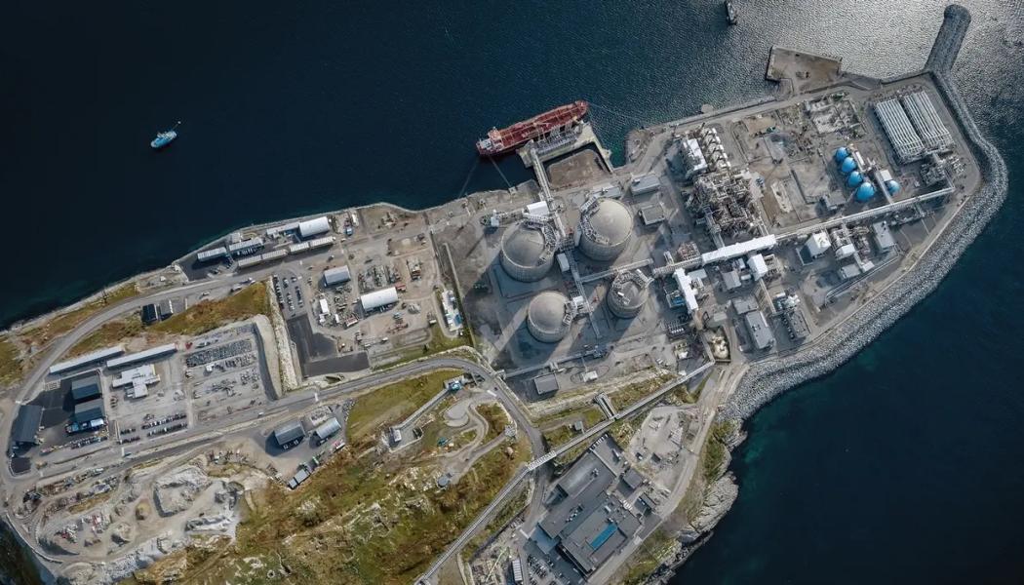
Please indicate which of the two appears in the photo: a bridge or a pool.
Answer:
bridge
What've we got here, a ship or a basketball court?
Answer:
ship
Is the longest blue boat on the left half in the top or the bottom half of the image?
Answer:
top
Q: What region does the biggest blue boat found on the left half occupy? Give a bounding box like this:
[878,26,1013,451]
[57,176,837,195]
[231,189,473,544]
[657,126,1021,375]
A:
[149,126,189,148]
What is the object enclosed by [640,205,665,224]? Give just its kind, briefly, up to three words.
shed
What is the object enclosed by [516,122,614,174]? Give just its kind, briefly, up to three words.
pier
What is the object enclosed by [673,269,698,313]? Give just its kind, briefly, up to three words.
building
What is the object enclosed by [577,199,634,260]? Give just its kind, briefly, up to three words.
storage tank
